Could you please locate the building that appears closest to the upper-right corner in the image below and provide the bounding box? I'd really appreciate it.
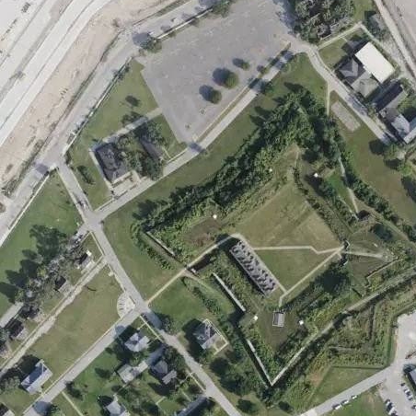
[353,41,394,83]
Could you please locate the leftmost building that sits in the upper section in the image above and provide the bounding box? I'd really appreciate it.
[94,143,128,181]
